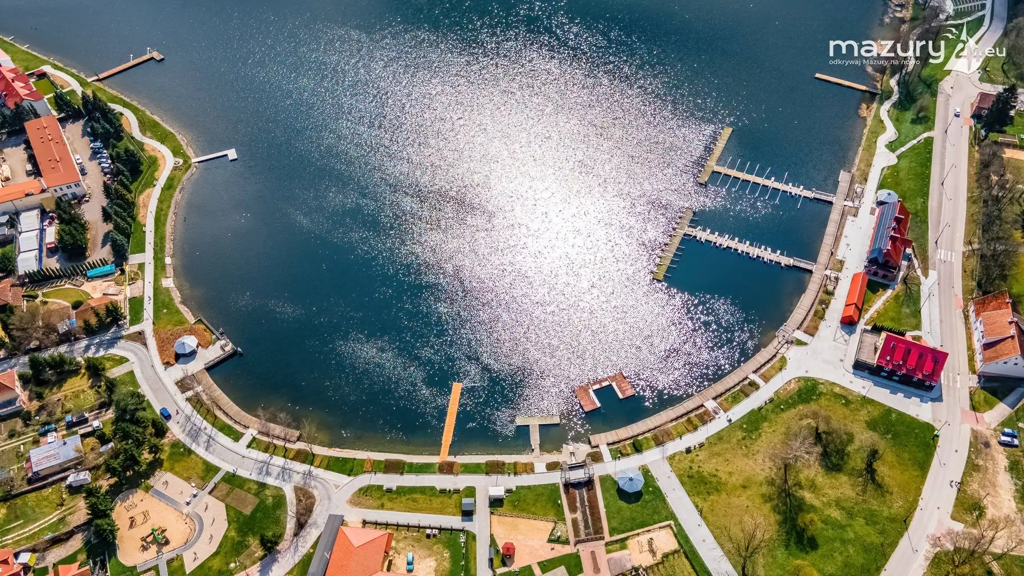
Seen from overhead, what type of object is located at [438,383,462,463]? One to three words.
pier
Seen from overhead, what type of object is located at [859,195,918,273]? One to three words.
building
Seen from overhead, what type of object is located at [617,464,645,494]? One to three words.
gazebo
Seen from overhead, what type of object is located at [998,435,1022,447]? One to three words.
vehicle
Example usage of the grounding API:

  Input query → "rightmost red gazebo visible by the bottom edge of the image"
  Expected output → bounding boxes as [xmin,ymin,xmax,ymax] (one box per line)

[502,542,516,557]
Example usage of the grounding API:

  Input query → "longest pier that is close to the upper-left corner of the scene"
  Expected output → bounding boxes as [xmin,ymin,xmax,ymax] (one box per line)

[88,45,164,82]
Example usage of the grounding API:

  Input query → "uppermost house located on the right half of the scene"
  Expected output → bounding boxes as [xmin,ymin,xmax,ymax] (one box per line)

[968,91,997,128]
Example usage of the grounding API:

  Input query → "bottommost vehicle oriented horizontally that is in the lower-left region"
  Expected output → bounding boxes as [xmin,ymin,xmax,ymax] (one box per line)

[62,469,92,485]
